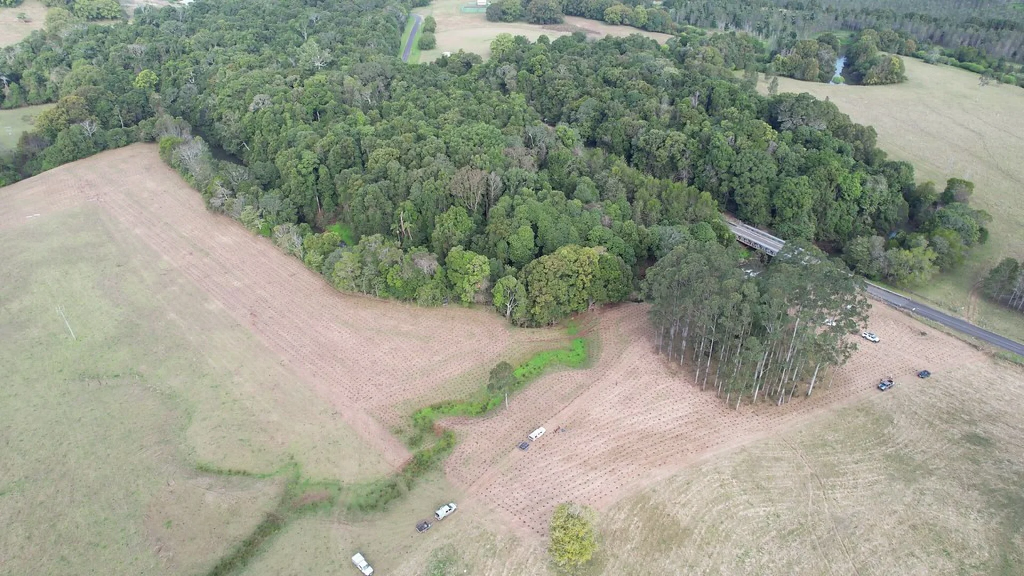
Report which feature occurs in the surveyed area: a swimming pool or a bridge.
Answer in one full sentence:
Visible in the photo is a bridge.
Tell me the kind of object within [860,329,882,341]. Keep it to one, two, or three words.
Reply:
vehicle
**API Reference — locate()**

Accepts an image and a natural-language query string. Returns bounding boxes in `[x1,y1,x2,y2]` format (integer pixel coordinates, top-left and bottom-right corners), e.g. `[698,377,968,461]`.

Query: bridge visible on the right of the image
[728,217,864,285]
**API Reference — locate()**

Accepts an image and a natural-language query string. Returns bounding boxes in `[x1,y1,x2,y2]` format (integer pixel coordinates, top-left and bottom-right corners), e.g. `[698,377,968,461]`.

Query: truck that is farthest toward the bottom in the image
[349,547,373,575]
